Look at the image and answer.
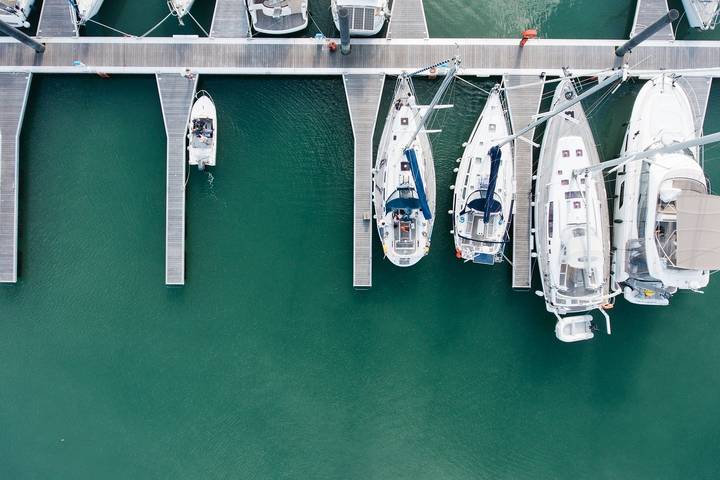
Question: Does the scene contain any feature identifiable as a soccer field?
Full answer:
No, the photo shows no soccer field.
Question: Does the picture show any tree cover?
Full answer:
No, the picture contains no tree cover.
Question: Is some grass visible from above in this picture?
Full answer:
No, the picture contains no grass.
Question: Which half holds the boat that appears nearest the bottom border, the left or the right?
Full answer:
The boat that appears nearest the bottom border appears in the right half of the scene.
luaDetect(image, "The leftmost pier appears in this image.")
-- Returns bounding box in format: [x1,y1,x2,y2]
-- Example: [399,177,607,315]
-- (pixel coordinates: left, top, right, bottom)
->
[0,73,35,283]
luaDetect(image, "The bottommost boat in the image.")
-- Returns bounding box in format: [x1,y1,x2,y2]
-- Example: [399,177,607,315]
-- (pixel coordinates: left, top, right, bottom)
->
[555,315,600,343]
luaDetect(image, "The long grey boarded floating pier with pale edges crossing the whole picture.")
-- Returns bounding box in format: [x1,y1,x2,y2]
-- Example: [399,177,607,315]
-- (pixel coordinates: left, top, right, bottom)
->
[0,36,720,79]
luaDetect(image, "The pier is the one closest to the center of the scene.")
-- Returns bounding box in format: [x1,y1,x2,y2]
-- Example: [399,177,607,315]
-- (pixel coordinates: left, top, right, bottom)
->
[343,74,385,288]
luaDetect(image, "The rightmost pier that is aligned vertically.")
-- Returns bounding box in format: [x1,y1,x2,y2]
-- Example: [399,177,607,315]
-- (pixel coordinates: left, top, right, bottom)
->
[671,75,713,172]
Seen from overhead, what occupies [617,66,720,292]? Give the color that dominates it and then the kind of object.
white boat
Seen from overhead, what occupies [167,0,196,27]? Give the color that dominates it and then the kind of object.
white boat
